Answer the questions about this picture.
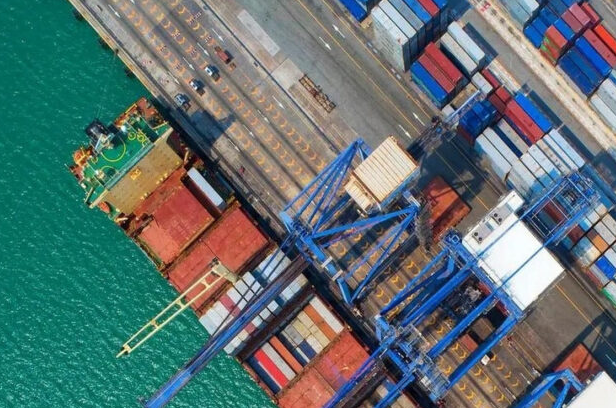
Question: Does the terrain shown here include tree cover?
No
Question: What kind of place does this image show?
port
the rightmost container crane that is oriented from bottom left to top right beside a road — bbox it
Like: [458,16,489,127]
[327,167,616,408]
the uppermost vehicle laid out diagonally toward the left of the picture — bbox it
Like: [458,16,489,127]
[210,39,230,61]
